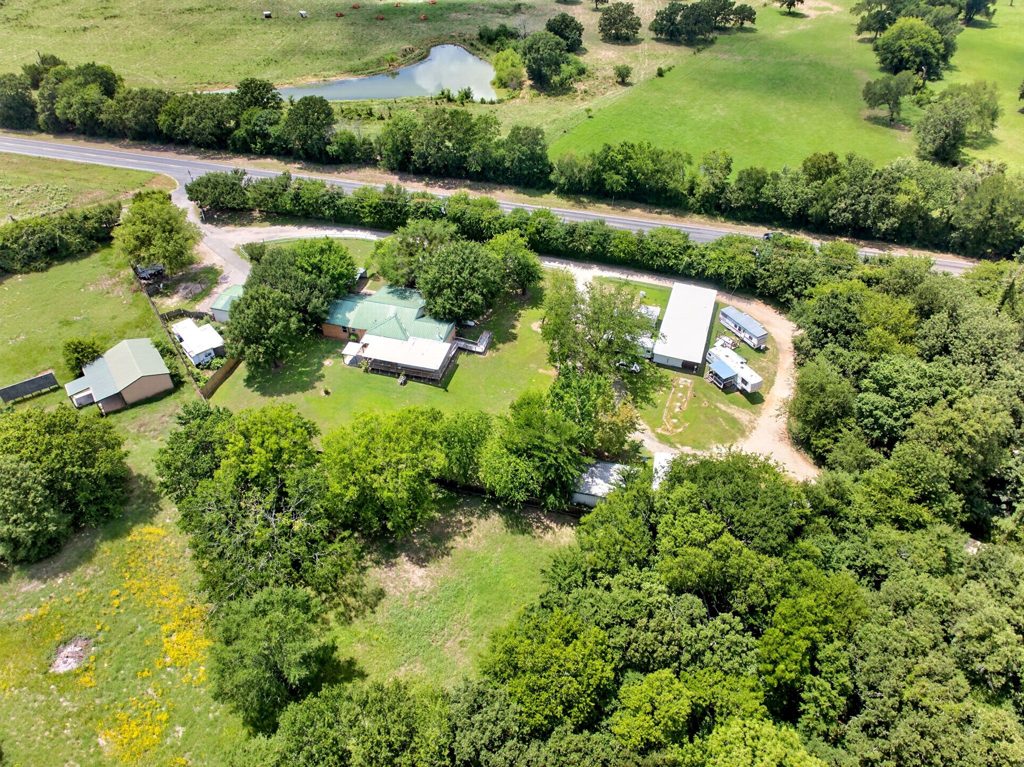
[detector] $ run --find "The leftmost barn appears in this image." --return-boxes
[65,339,174,413]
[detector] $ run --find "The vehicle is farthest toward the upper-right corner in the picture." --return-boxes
[762,233,791,246]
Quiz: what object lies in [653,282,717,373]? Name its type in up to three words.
shed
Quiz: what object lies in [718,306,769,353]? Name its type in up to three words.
vehicle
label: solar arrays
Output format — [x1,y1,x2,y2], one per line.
[0,369,62,403]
